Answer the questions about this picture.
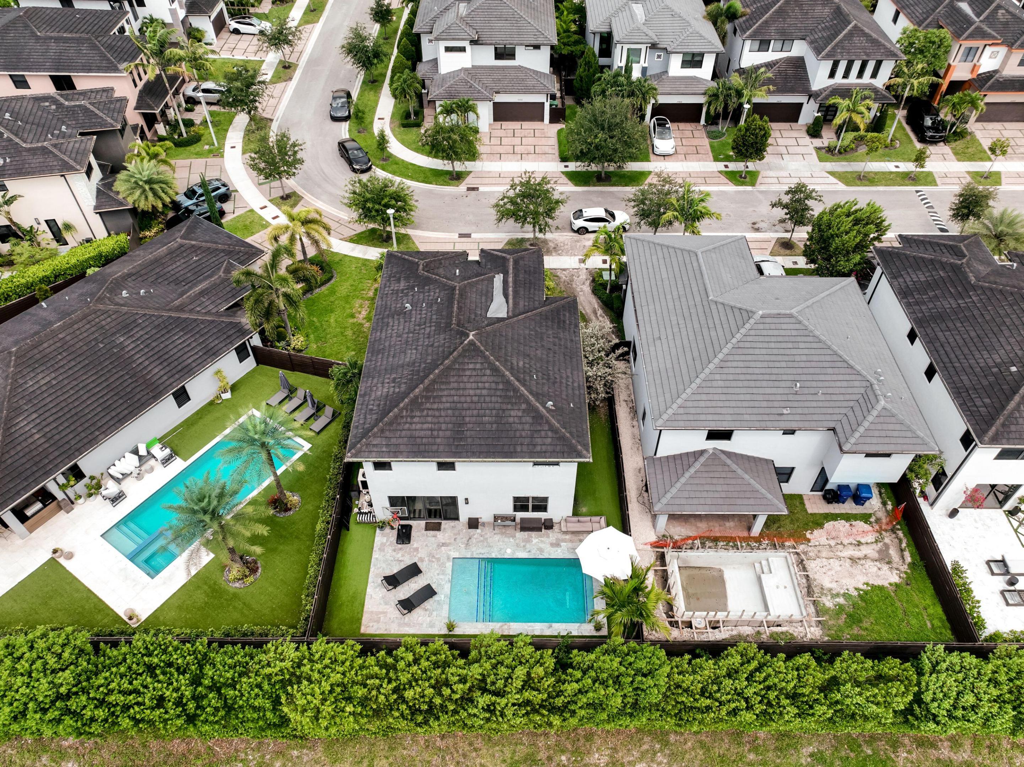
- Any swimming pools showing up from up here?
Yes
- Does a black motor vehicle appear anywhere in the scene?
Yes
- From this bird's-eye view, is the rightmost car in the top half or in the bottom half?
top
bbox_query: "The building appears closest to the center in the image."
[343,243,594,522]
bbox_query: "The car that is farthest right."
[902,97,948,139]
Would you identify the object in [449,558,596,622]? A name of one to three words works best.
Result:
swimming pool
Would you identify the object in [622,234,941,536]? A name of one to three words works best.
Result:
house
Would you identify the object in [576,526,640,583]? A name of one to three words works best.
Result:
umbrella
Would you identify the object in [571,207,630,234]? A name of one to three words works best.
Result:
car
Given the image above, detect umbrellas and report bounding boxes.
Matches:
[280,372,294,401]
[576,526,640,583]
[307,391,320,420]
